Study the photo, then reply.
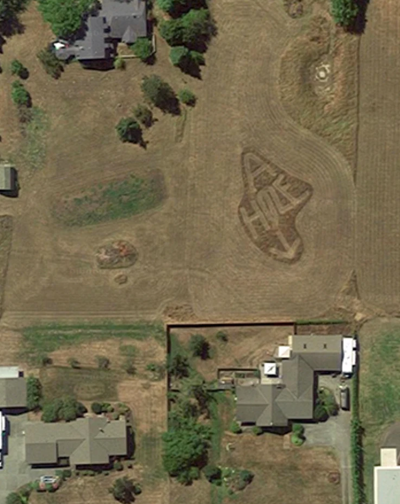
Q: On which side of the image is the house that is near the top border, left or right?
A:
left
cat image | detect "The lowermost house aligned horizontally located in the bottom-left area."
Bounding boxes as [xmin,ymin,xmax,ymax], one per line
[24,417,126,465]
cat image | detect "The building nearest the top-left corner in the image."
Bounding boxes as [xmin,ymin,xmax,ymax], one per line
[73,0,145,58]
